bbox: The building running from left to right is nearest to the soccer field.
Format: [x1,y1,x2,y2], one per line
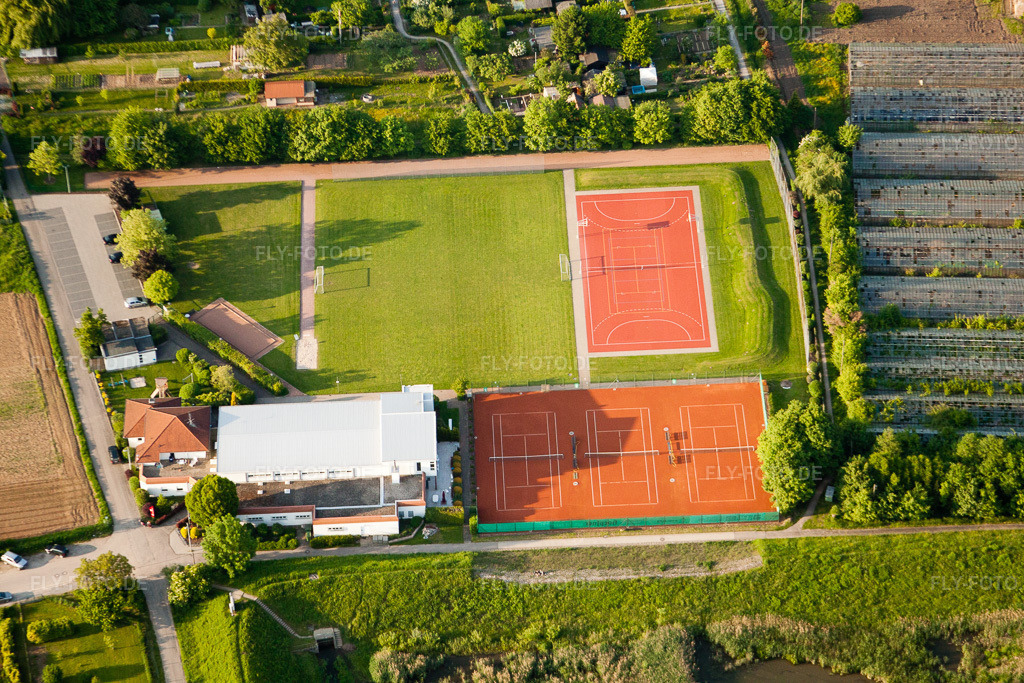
[215,380,438,486]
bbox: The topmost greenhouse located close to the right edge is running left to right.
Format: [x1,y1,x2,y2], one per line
[849,42,1024,87]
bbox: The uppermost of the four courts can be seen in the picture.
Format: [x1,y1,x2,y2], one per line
[576,190,711,353]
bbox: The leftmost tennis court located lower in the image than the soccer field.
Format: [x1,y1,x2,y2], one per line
[487,407,566,515]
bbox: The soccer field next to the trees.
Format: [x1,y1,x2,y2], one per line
[316,170,580,396]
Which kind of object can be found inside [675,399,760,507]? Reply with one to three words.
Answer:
tennis court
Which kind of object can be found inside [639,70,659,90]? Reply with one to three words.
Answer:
building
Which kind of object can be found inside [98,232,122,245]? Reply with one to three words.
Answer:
vehicle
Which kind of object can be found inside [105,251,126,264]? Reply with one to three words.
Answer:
vehicle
